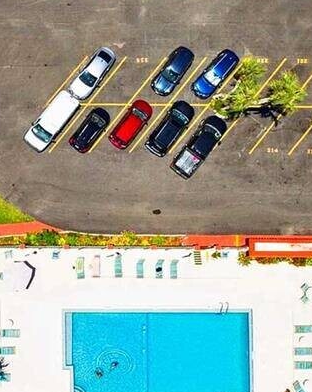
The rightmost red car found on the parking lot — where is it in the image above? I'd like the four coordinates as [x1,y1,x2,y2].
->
[105,99,152,152]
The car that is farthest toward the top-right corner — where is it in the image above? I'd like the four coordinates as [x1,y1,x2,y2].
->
[190,47,240,101]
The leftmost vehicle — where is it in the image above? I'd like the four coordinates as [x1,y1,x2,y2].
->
[26,90,80,152]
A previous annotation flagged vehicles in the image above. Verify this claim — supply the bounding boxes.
[66,105,111,156]
[143,101,193,158]
[69,45,118,102]
[148,42,197,99]
[190,47,240,101]
[26,90,80,152]
[105,99,152,152]
[168,116,226,182]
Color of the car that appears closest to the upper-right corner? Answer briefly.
blue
